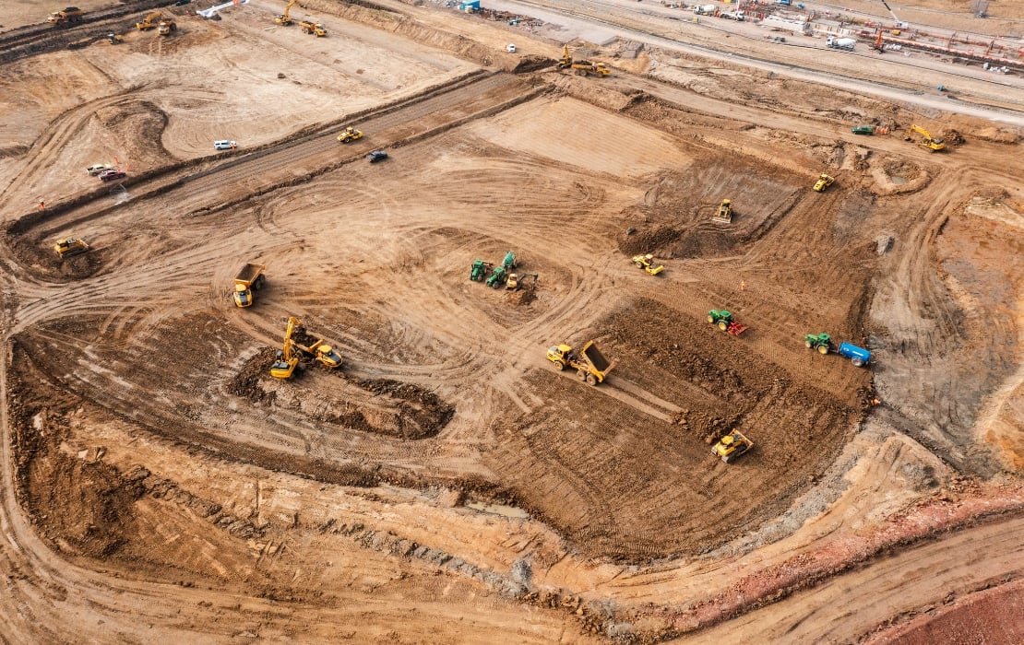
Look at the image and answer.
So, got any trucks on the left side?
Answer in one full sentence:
Yes, a truck is visible on the left side.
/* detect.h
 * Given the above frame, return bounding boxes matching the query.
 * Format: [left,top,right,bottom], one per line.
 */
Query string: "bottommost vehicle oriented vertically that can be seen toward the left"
[271,312,300,380]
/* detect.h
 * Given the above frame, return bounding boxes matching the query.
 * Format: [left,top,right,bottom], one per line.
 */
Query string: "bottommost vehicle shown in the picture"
[710,429,758,466]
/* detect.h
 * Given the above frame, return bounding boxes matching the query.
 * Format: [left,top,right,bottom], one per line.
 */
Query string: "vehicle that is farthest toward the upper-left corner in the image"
[45,6,85,25]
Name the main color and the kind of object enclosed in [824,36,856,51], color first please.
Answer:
white vehicle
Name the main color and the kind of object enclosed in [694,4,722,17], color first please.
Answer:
white vehicle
